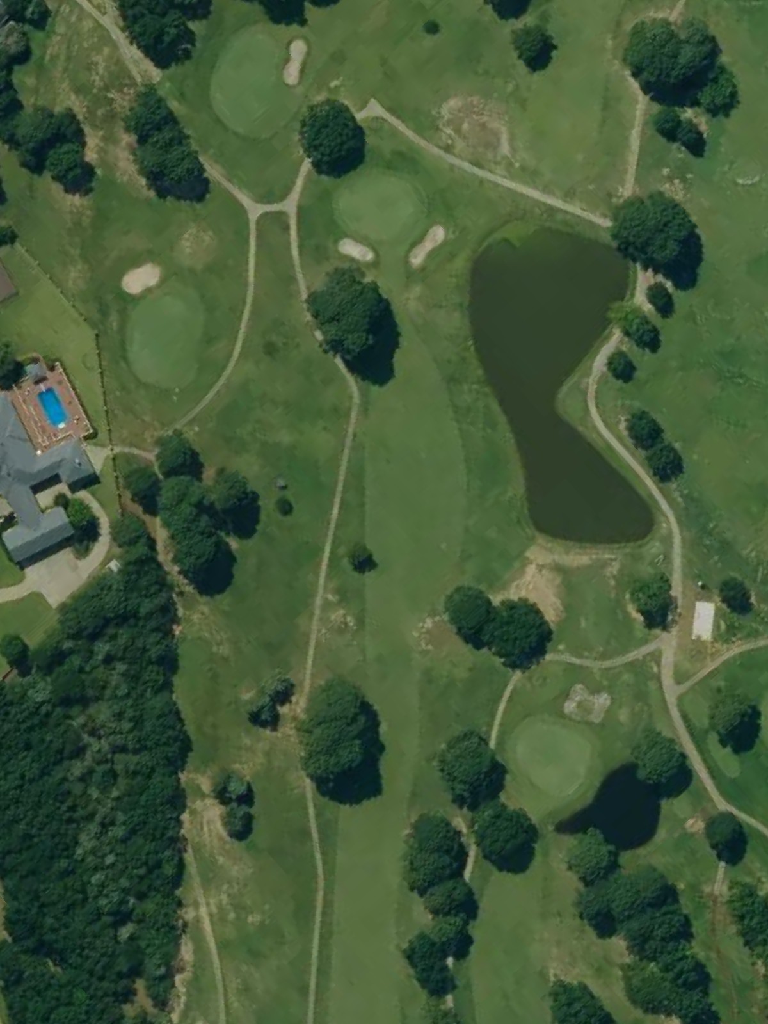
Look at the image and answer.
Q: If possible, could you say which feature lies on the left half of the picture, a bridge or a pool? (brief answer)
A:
pool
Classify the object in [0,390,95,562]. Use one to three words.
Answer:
house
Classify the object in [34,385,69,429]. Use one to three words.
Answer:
swimming pool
